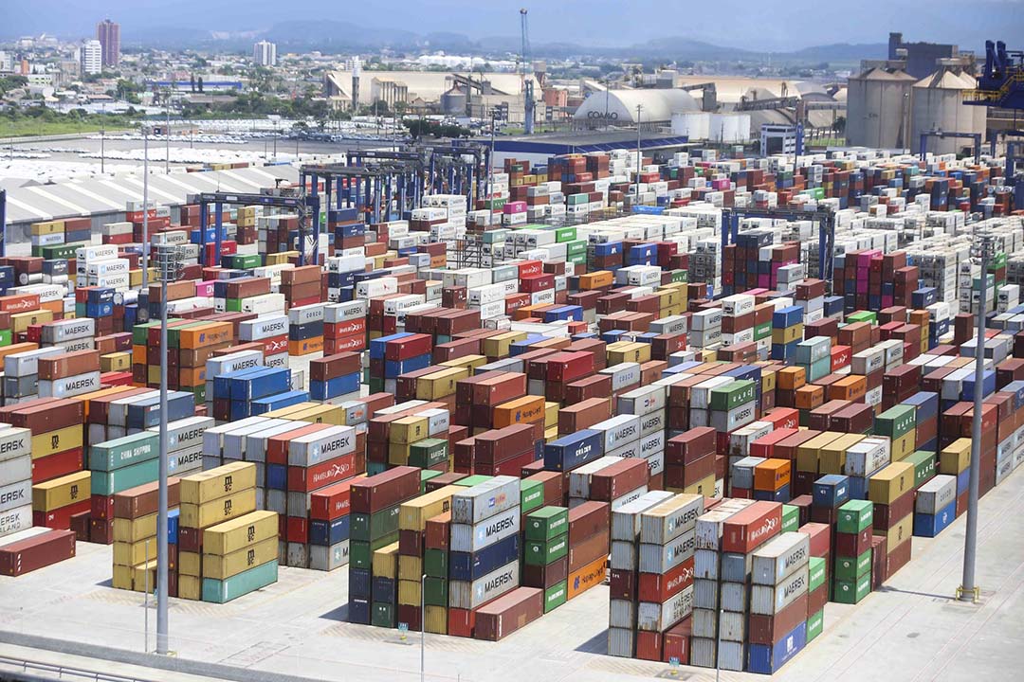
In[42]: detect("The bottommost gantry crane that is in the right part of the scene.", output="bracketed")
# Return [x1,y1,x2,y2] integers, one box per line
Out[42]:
[714,192,836,293]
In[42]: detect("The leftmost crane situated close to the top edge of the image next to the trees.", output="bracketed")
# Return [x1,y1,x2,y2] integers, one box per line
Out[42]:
[521,6,539,132]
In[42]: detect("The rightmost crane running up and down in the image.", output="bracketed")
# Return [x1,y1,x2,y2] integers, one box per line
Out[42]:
[966,42,1024,199]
